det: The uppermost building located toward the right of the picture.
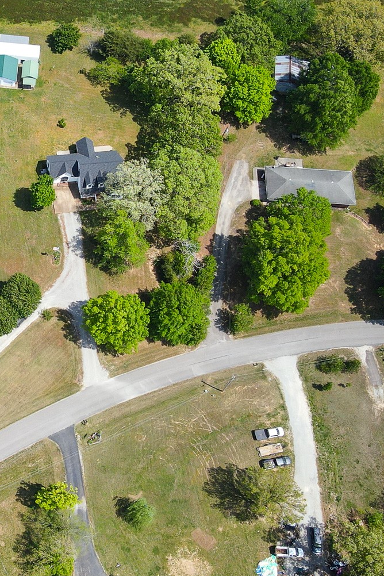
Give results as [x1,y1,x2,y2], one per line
[268,51,309,102]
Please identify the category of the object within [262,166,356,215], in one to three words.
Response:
house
